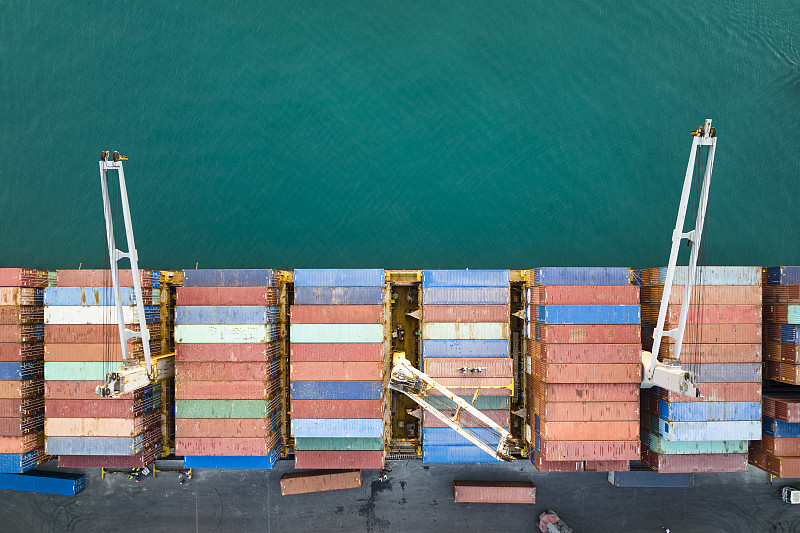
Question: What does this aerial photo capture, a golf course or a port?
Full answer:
This looks like a port.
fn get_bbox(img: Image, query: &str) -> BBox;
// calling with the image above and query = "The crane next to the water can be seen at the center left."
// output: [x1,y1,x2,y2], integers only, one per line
[92,147,176,404]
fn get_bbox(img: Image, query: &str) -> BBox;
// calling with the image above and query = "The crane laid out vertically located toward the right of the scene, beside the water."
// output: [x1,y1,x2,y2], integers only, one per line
[641,116,720,406]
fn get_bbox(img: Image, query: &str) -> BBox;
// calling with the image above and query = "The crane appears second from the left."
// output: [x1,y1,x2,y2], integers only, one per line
[385,348,519,463]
